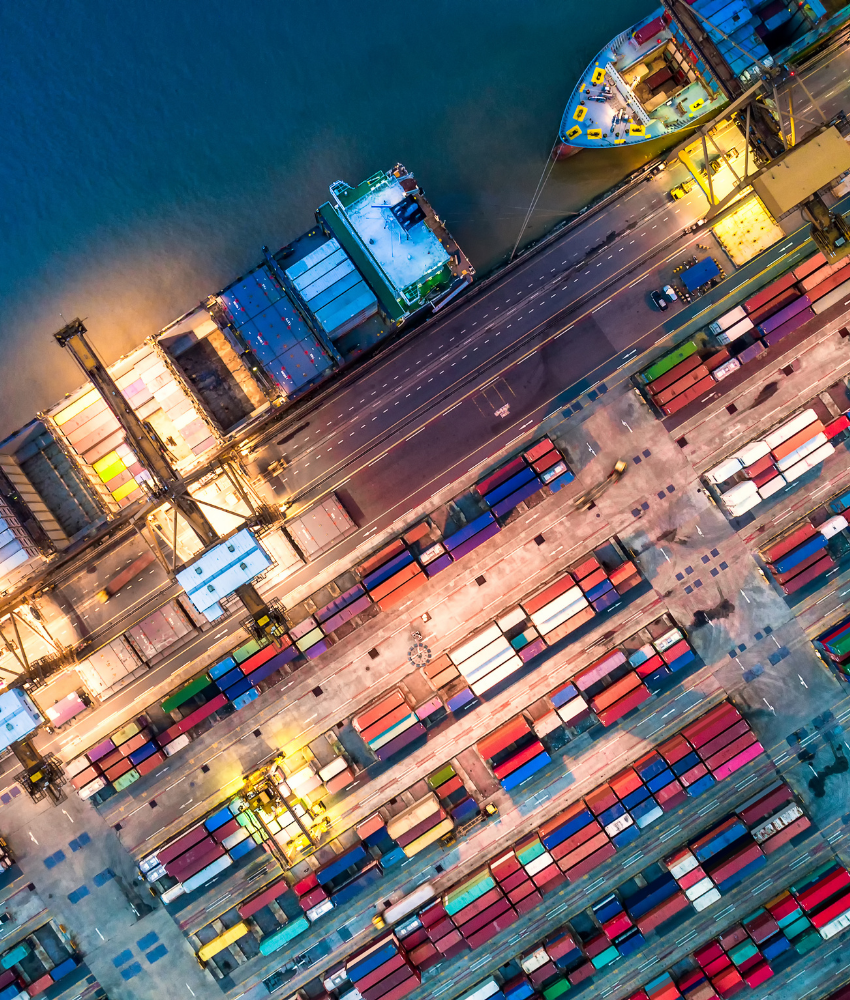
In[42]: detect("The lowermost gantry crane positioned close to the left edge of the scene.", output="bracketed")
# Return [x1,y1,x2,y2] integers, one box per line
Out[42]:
[0,569,105,810]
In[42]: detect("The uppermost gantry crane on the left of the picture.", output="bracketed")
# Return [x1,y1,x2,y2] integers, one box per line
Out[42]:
[47,320,296,658]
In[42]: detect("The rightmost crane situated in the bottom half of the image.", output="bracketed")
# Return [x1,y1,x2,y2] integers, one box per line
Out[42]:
[242,753,329,870]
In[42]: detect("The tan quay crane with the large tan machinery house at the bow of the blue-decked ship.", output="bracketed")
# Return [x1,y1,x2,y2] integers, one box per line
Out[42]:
[645,0,850,266]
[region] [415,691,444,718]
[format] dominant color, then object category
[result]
pink shipping container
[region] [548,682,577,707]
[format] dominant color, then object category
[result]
blue shipping container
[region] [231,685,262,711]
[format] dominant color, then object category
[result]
blue shipping container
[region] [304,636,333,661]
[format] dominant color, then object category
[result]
purple shipping container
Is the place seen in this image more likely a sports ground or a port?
port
